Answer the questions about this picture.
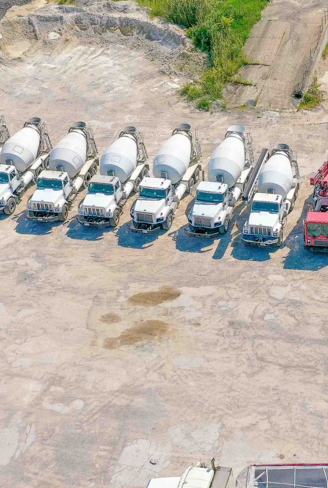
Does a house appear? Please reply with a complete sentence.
No, I find no house anywhere in the image.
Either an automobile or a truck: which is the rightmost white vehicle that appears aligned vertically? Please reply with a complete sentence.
Specifically, the rightmost white vehicle that appears aligned vertically is a truck.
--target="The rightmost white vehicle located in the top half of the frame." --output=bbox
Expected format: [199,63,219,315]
[242,138,300,245]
